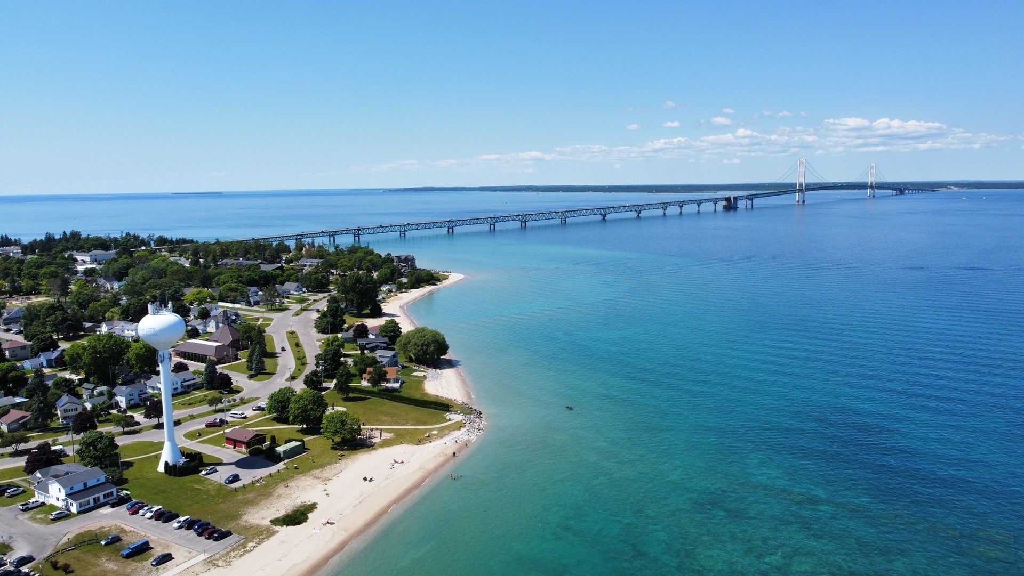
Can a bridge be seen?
Yes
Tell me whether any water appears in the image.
Yes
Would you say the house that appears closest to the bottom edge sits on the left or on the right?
left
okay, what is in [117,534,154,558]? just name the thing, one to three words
truck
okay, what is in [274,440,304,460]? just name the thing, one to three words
shed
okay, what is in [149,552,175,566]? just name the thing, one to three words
car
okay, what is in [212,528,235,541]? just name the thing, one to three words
vehicle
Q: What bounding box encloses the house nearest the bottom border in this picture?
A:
[33,459,136,514]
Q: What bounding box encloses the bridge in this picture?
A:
[129,158,950,251]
